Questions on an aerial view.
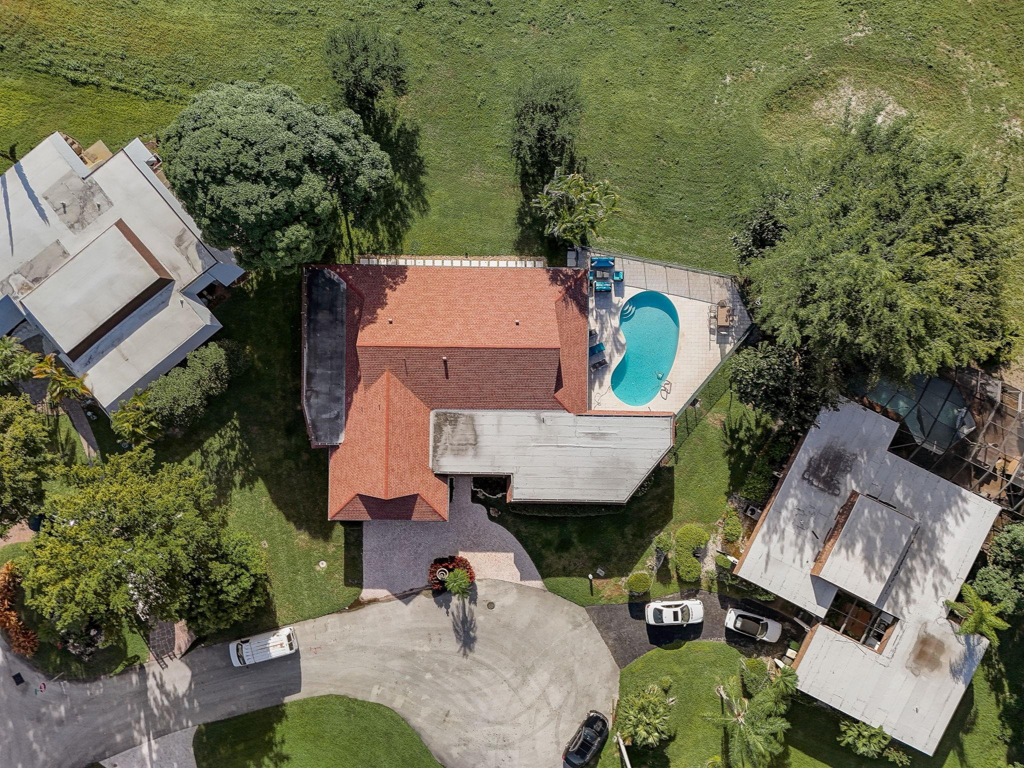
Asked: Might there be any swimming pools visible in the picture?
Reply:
Yes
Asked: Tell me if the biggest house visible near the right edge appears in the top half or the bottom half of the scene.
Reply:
bottom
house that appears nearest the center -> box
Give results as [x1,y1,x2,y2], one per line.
[301,266,676,522]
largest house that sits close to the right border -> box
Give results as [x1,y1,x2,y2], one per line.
[732,395,1001,756]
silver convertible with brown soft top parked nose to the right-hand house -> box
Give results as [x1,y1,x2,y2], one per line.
[724,605,782,644]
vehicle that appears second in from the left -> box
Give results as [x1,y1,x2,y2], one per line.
[562,709,607,768]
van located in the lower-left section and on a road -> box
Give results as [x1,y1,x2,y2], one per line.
[230,625,302,669]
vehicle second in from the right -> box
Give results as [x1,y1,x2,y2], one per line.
[644,599,703,628]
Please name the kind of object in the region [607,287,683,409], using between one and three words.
swimming pool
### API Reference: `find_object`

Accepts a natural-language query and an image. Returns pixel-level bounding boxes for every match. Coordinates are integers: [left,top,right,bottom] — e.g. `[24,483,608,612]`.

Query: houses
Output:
[0,132,238,422]
[301,266,676,522]
[732,395,1001,756]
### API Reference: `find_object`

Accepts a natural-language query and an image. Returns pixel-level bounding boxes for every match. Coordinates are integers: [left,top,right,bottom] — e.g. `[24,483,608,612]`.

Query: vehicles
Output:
[644,599,703,628]
[724,605,782,644]
[230,625,302,669]
[562,709,607,768]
